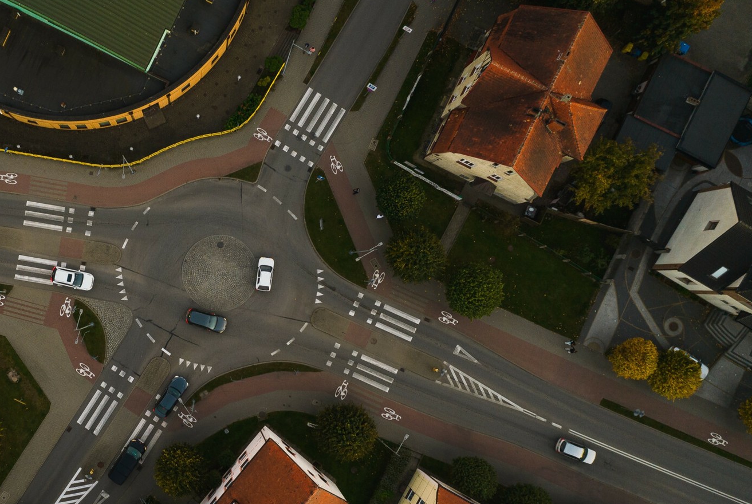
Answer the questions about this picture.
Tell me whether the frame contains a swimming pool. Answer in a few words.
No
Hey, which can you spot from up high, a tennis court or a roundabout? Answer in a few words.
roundabout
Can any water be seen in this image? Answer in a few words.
No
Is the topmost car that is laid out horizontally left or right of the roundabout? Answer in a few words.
on the left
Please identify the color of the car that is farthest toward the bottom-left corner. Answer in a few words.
black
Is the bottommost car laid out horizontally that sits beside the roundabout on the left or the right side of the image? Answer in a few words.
left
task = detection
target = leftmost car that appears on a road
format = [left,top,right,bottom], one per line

[50,266,96,289]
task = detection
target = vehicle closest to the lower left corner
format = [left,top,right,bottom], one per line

[108,436,145,488]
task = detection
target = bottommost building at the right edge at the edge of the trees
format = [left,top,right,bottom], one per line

[652,182,752,329]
